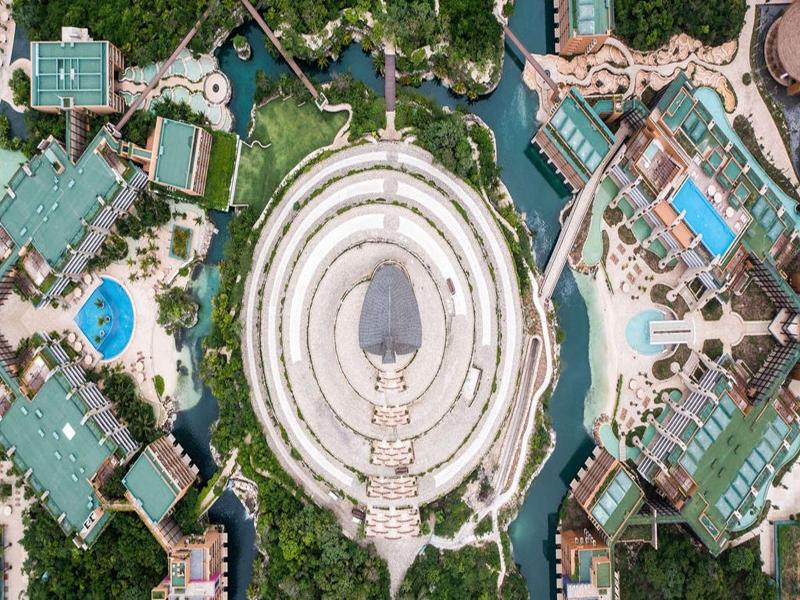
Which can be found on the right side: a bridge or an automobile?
bridge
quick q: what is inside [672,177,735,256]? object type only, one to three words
swimming pool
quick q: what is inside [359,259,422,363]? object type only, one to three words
building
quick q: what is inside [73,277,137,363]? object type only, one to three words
swimming pool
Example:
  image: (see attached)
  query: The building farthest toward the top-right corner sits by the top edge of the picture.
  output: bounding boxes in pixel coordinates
[757,3,800,101]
